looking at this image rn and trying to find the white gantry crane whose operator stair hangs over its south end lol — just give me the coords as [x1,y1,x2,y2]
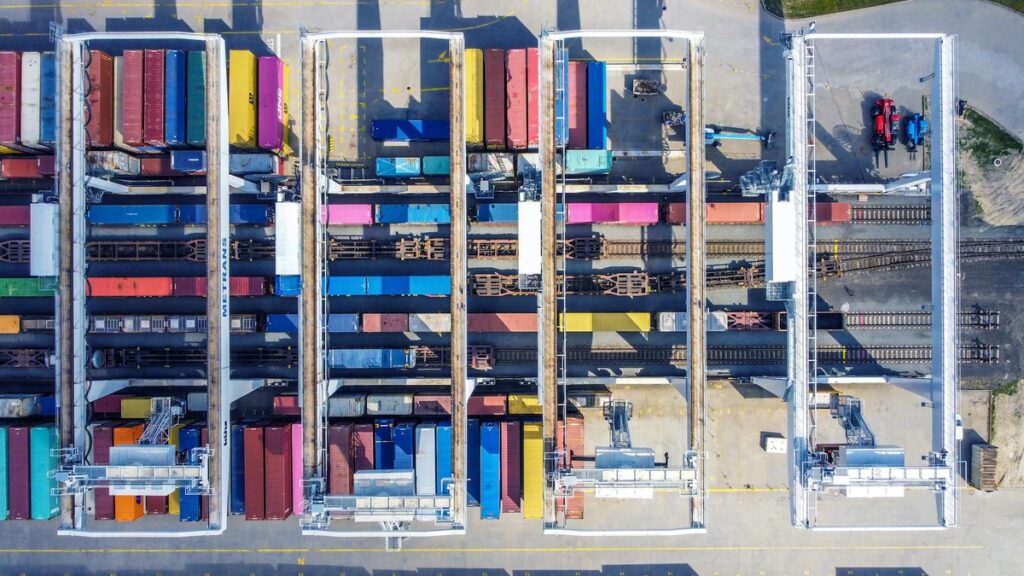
[276,25,512,542]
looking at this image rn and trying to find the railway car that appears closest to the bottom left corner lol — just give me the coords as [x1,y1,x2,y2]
[0,345,54,365]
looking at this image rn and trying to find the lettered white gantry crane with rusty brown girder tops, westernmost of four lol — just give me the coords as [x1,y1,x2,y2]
[33,20,294,535]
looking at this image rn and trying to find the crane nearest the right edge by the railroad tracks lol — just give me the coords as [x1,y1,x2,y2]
[719,20,969,532]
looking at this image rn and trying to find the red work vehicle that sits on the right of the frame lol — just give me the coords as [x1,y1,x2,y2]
[871,99,901,158]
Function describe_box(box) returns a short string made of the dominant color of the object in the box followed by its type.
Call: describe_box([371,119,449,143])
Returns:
blue trailer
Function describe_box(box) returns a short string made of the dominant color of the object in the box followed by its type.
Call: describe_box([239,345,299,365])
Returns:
black rail car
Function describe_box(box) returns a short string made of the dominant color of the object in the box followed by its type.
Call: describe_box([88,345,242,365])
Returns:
black rail car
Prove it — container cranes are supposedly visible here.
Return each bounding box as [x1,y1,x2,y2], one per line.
[512,26,722,535]
[719,20,969,532]
[33,20,294,535]
[276,25,512,542]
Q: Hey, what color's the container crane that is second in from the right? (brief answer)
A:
white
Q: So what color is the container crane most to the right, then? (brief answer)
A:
white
